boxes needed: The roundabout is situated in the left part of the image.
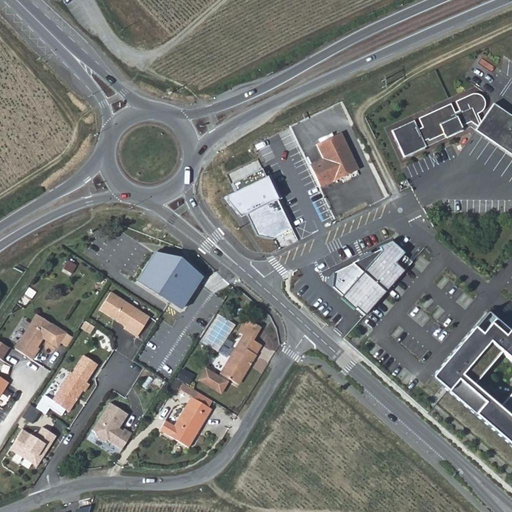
[96,97,200,210]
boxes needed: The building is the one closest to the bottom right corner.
[436,312,512,446]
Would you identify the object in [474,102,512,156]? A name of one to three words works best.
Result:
building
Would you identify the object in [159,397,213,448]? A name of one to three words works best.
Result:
house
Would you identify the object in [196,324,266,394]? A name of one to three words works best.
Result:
house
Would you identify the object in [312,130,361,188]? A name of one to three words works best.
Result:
building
